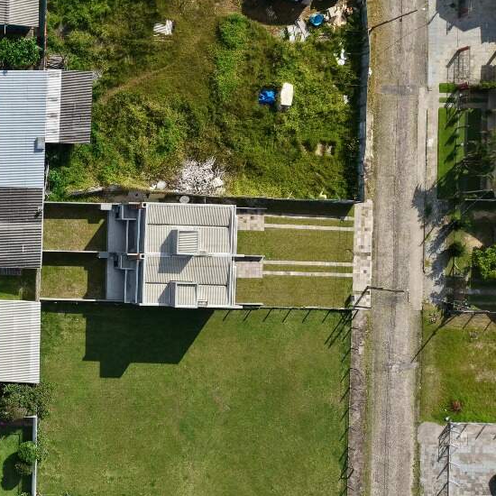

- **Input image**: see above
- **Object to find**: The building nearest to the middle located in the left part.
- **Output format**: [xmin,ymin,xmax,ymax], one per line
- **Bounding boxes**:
[96,204,269,309]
